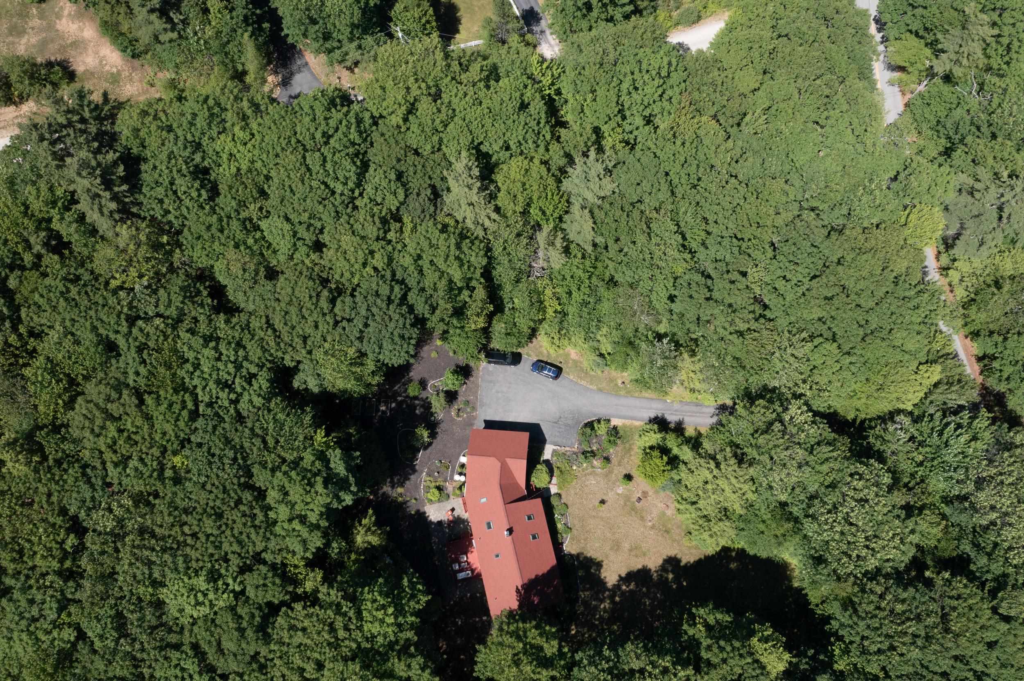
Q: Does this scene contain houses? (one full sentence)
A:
Yes, the photo shows a house.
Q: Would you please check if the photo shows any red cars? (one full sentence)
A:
No, this view has no red car in it.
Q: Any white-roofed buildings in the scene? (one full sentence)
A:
No, I can't see a single white-roofed building in this photo.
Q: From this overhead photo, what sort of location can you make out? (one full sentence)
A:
This image shows a forest.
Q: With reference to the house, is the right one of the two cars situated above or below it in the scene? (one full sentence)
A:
Looking at the scene, the right one of the two cars is located above the house.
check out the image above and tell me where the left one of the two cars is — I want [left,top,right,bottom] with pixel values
[486,351,523,368]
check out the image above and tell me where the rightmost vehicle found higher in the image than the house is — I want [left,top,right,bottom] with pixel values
[529,362,562,383]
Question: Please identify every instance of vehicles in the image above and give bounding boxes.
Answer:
[529,362,562,383]
[486,351,523,368]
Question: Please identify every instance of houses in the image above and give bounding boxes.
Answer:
[463,429,571,626]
